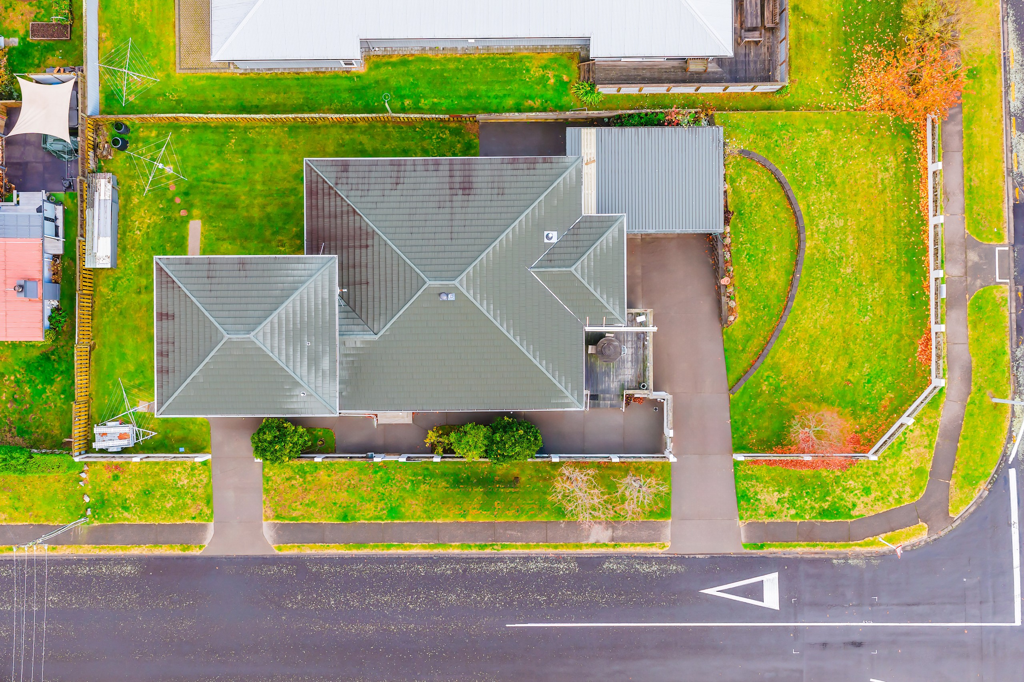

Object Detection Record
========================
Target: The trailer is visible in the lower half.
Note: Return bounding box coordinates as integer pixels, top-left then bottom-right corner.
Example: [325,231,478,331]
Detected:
[92,421,158,452]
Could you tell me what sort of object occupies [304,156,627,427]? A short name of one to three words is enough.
house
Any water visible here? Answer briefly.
No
